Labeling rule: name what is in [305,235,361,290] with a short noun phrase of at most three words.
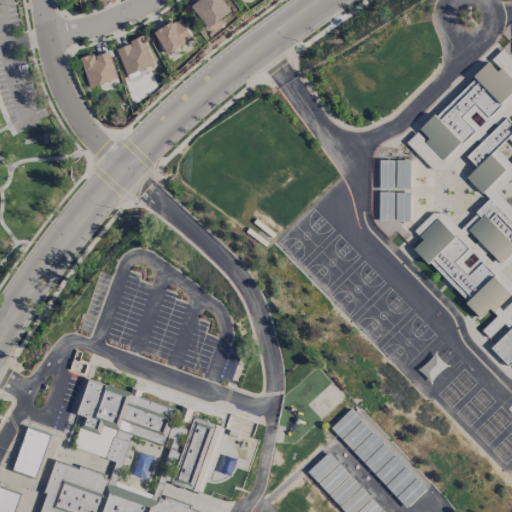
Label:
basketball court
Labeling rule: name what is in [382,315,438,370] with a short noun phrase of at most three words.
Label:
basketball court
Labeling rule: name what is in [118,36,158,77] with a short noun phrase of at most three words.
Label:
house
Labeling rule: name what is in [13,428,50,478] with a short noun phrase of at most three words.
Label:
building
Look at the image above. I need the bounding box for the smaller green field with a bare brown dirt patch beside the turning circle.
[328,22,442,117]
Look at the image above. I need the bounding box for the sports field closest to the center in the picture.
[184,99,342,231]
